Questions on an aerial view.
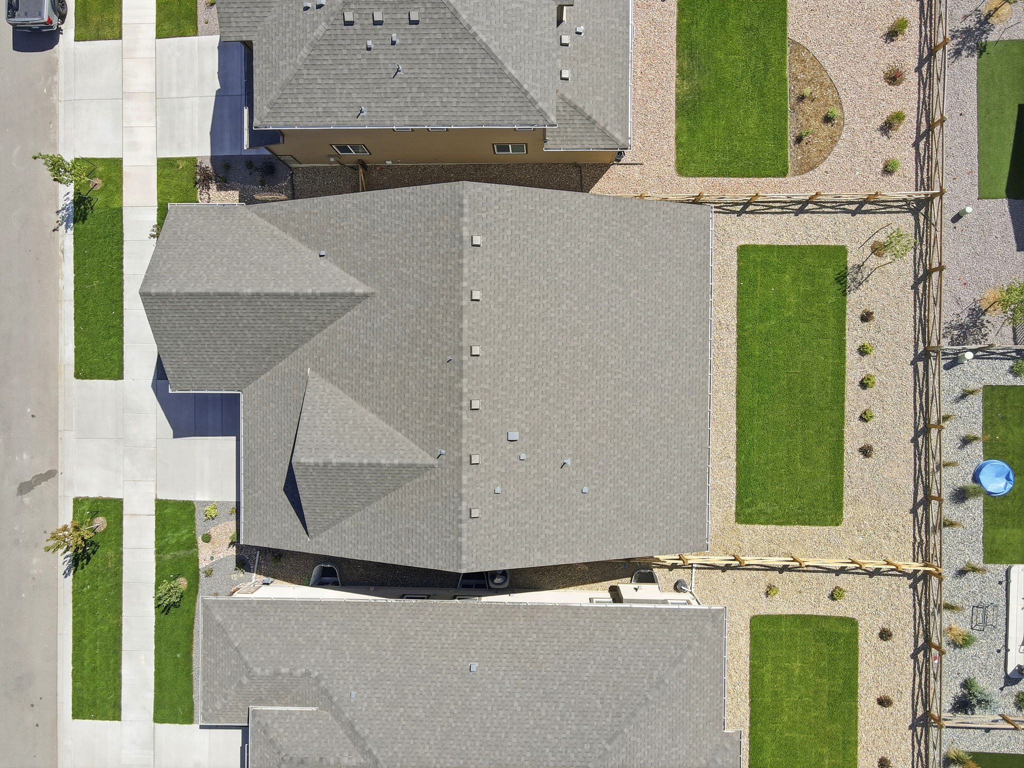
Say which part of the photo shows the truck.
top left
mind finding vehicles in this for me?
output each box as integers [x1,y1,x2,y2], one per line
[3,0,69,32]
